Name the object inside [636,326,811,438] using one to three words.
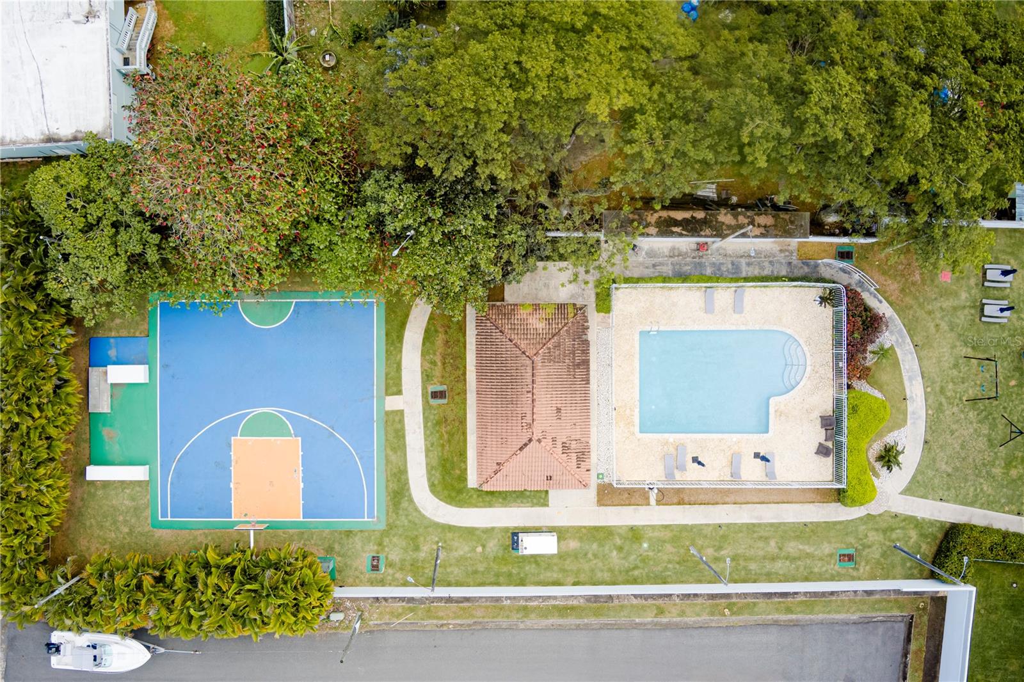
swimming pool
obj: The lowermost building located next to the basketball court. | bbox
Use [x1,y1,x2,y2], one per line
[474,302,592,493]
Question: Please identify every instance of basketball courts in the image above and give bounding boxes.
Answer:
[149,292,385,530]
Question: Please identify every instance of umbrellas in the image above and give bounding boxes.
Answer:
[1002,268,1018,279]
[692,456,709,469]
[754,453,776,466]
[999,305,1016,314]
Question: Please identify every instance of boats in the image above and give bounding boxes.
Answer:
[41,632,150,672]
